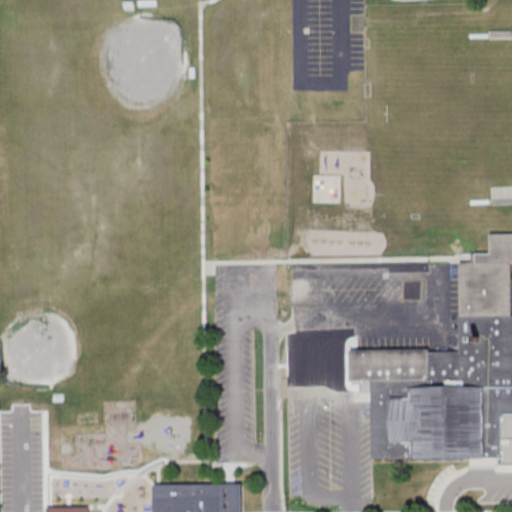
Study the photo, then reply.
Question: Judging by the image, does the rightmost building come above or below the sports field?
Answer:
below it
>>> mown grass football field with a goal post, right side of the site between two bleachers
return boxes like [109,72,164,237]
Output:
[374,48,512,180]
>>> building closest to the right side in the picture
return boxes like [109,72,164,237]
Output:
[349,234,512,466]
